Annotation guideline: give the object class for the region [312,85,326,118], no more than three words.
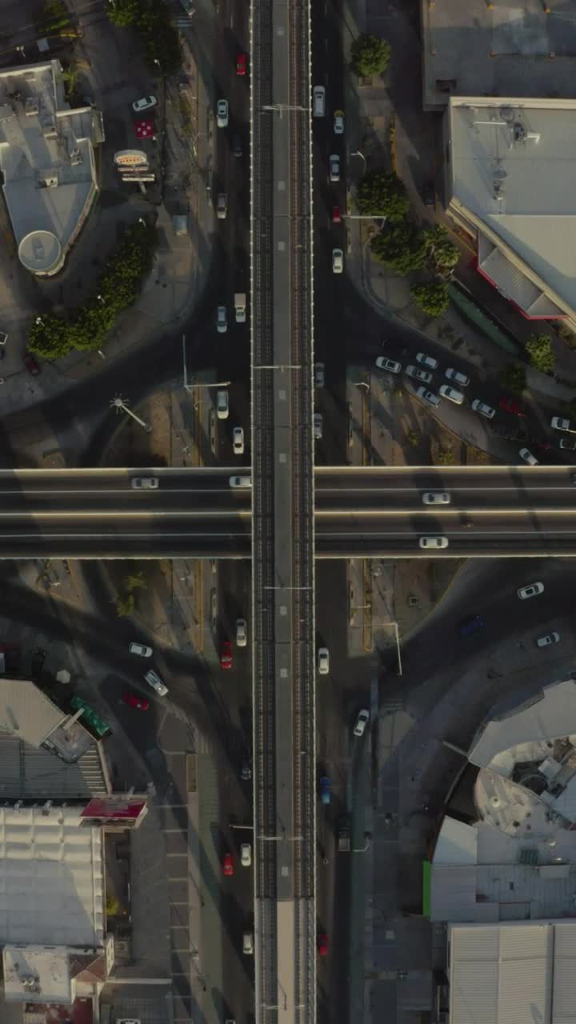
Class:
vehicle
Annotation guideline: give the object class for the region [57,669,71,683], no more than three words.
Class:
umbrella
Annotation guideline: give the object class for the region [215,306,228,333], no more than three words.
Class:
vehicle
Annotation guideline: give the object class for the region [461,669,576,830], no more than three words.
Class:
building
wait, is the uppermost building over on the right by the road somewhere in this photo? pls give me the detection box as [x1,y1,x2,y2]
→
[419,0,576,124]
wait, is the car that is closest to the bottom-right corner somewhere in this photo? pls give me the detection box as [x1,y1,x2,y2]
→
[317,933,329,955]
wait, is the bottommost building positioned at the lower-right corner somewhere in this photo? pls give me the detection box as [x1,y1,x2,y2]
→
[442,920,576,1024]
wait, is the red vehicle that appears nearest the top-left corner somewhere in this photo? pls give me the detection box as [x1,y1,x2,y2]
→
[235,52,248,77]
